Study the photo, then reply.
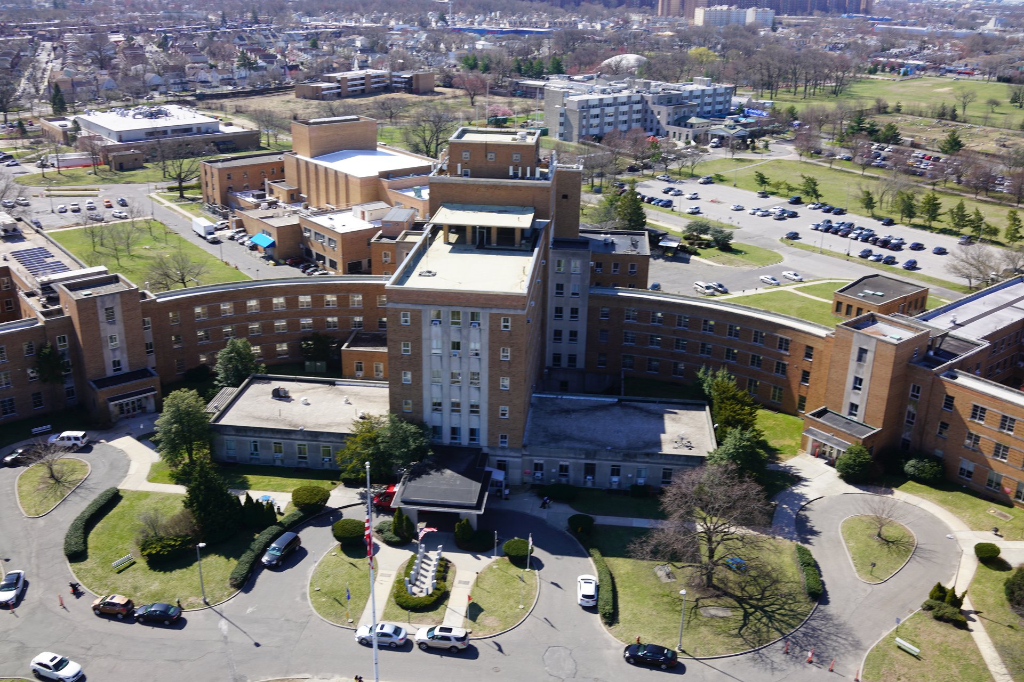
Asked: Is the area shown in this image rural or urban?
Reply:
urban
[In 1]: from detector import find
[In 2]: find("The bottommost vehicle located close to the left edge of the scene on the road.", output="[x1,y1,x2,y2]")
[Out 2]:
[32,650,80,682]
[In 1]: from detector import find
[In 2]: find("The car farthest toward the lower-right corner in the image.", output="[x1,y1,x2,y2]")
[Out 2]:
[624,642,678,670]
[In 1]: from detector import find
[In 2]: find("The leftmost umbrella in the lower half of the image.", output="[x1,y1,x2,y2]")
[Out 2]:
[255,481,274,501]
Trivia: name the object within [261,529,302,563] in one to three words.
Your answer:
car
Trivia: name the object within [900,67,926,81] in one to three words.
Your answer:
building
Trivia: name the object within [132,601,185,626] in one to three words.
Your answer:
car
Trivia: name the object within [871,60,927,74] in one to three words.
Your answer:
building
